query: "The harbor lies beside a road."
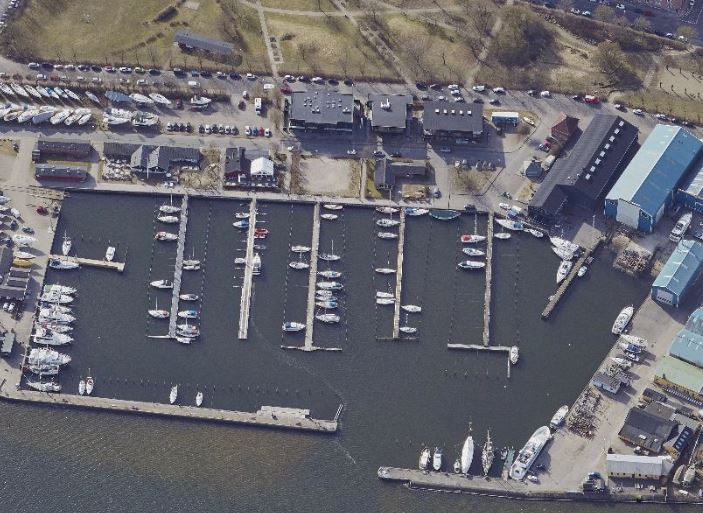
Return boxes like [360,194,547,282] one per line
[0,186,703,498]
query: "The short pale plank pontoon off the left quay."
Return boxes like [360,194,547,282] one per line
[49,254,125,271]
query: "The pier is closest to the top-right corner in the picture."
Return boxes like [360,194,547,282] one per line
[573,222,602,254]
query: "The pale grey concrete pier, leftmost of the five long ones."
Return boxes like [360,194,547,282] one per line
[169,195,188,337]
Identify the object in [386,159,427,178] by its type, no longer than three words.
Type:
house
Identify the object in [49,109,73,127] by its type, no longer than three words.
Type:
boat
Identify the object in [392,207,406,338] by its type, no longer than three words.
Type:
pier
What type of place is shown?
port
